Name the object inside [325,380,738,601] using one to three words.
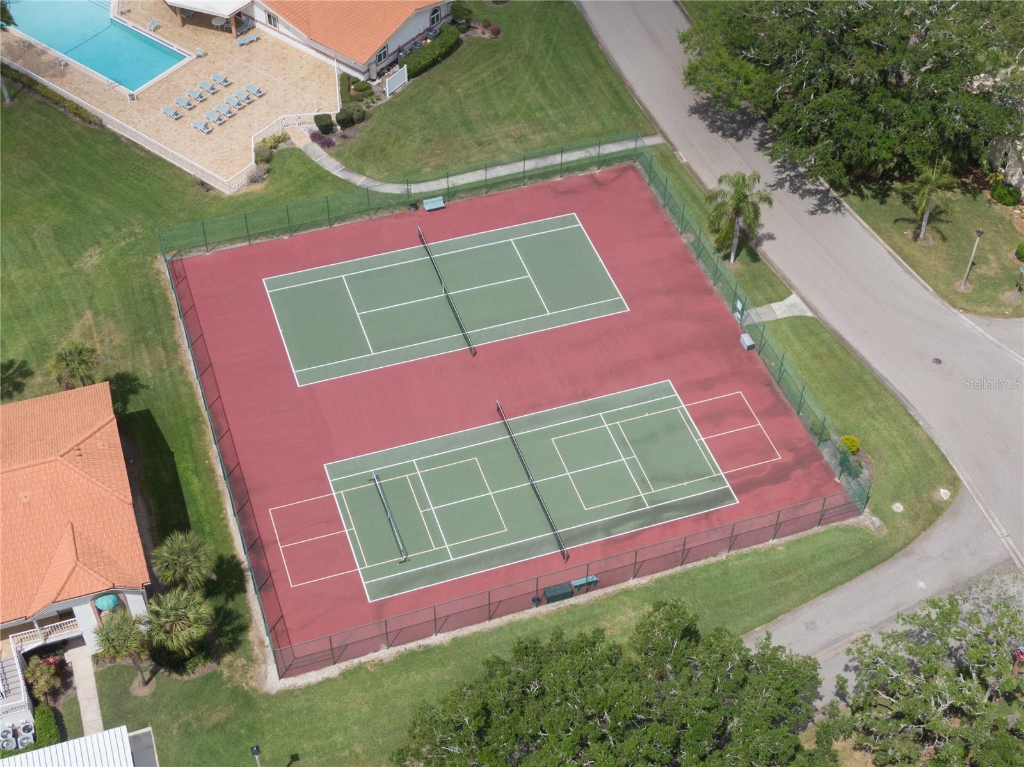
tennis court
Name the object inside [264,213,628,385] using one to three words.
tennis court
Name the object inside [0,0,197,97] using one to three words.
swimming pool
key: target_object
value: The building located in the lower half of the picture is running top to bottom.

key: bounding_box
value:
[0,382,158,740]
